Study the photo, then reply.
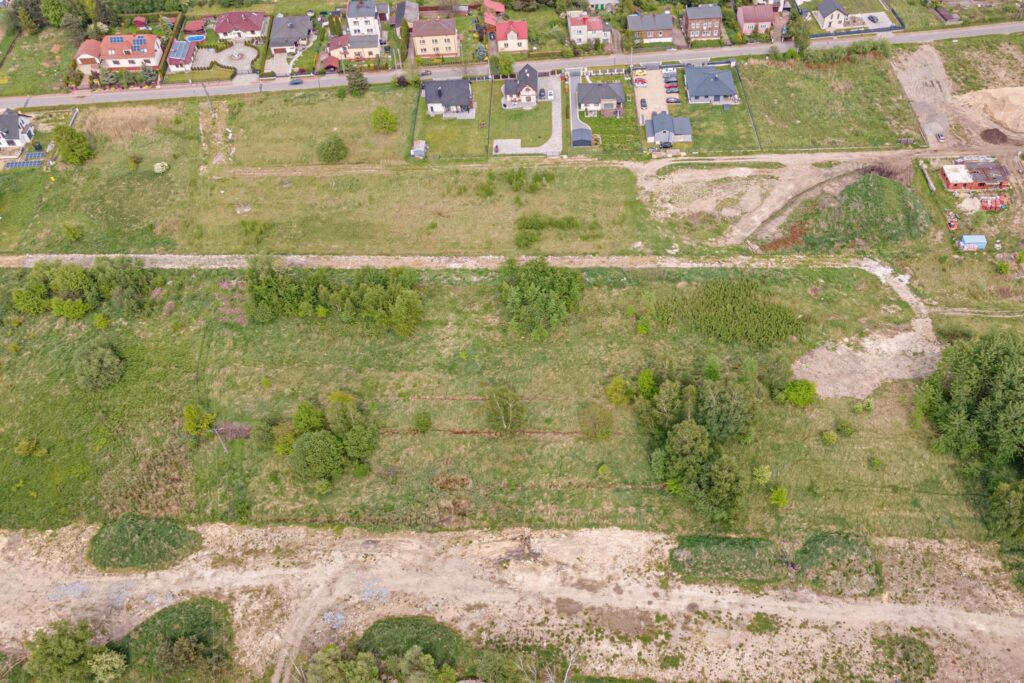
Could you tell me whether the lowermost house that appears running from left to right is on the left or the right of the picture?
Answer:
right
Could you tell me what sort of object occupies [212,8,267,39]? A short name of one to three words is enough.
house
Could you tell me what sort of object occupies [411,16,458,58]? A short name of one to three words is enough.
house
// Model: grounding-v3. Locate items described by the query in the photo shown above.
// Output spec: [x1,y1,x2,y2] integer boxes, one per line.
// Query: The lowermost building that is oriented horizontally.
[939,158,1015,192]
